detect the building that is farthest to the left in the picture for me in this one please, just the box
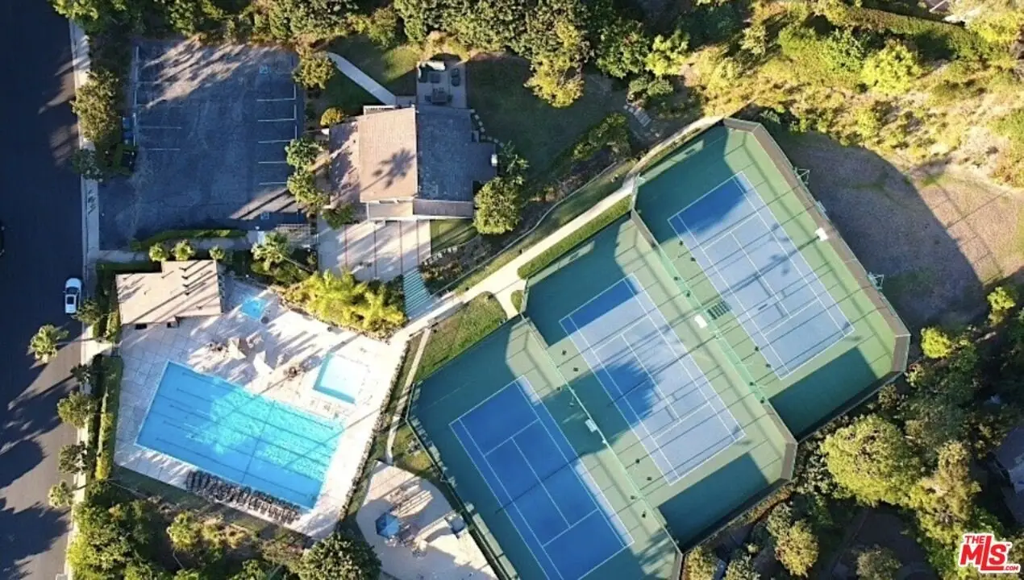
[116,259,224,330]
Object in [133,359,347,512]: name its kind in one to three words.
swimming pool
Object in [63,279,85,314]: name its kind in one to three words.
car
